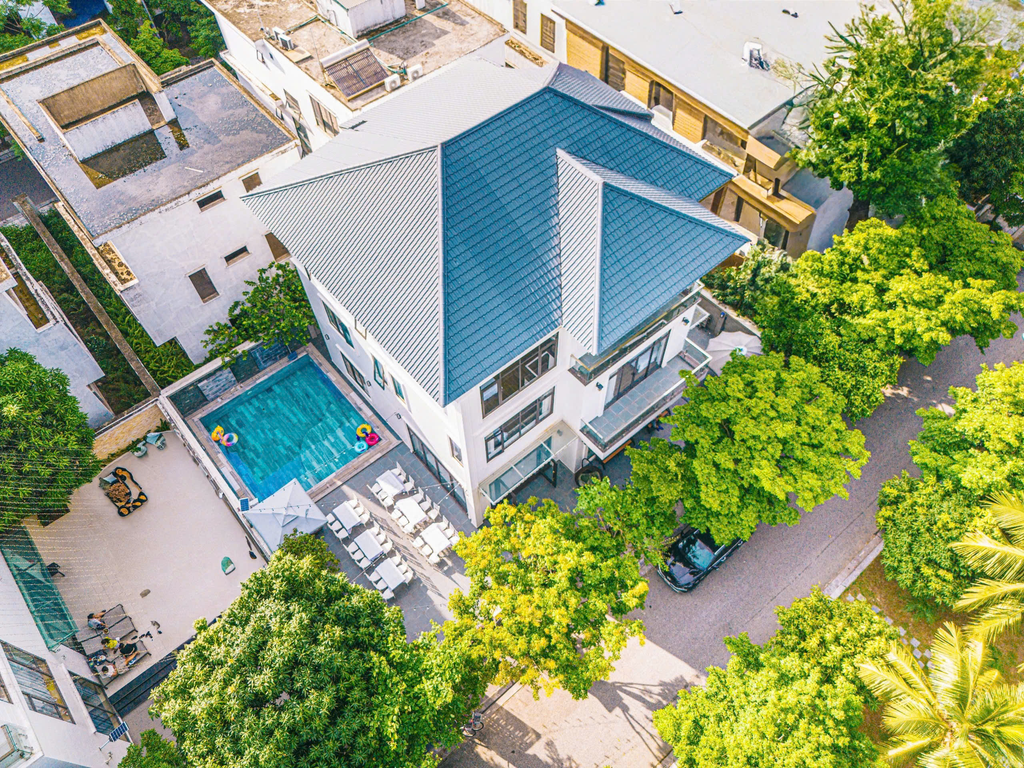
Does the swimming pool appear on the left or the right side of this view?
left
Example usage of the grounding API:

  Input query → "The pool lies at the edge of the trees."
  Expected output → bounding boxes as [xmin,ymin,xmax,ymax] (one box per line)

[185,344,402,507]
